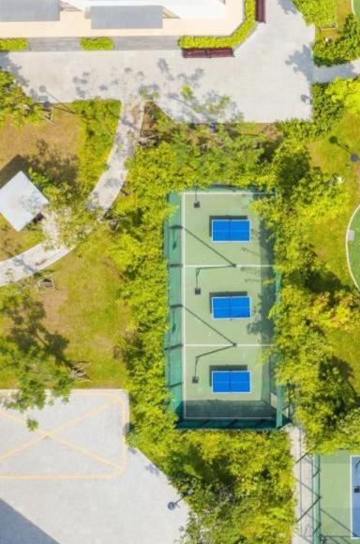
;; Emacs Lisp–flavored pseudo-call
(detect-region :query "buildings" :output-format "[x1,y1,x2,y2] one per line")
[0,171,65,231]
[0,0,225,29]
